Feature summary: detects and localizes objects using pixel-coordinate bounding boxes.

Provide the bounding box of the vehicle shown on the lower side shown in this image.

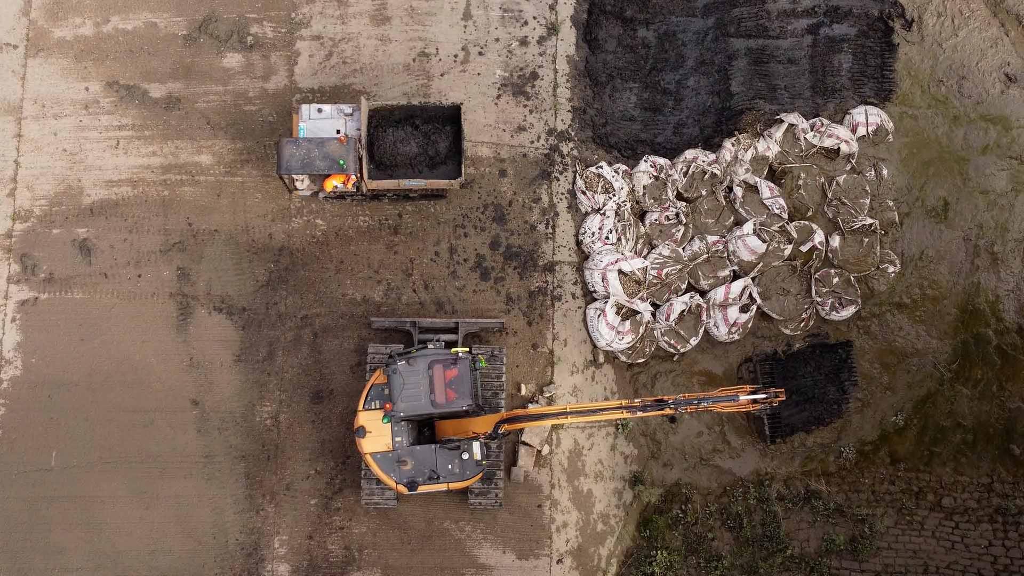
[355,319,795,508]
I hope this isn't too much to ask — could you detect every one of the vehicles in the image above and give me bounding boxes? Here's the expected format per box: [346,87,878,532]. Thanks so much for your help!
[355,319,795,508]
[277,97,466,203]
